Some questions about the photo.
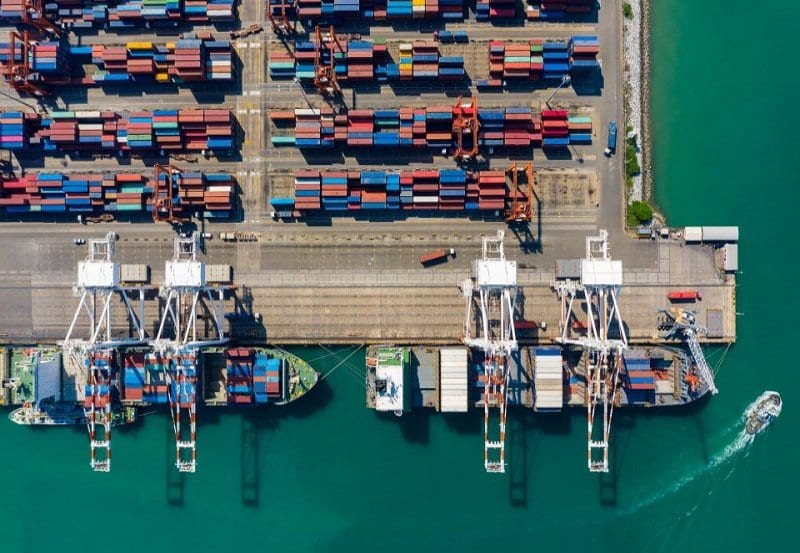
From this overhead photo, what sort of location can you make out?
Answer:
port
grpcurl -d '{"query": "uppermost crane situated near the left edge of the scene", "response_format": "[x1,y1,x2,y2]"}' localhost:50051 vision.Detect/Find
[22,0,71,34]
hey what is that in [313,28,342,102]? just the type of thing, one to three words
crane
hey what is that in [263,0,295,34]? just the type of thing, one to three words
crane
